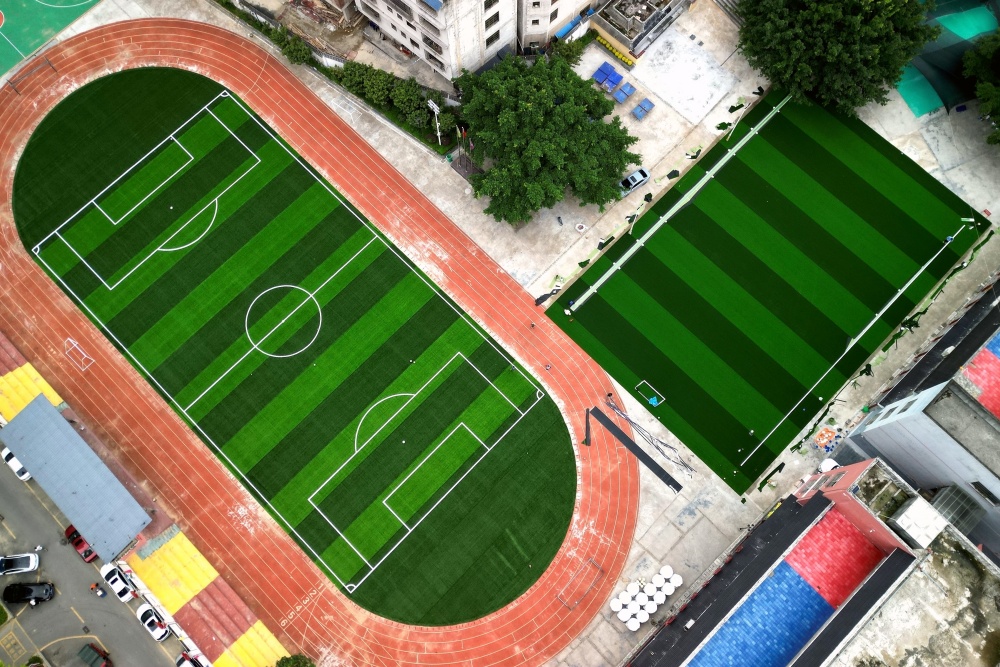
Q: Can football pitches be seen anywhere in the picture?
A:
Yes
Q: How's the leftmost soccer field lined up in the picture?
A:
diagonally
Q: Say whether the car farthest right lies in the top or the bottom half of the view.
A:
top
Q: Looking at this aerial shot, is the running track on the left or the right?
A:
left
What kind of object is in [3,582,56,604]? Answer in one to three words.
car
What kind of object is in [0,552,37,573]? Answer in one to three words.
car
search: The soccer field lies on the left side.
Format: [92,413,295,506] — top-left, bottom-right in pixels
[10,61,578,626]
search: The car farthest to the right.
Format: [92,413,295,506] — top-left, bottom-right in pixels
[618,164,649,195]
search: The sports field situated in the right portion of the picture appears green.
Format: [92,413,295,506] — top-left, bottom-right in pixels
[545,73,990,497]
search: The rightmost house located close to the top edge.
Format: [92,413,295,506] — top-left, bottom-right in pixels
[584,0,704,60]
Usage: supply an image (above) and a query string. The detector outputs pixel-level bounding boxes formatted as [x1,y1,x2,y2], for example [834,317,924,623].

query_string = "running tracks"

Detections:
[0,17,641,667]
